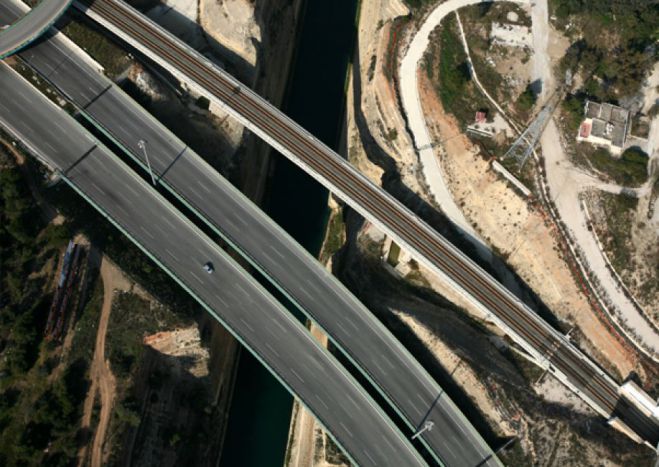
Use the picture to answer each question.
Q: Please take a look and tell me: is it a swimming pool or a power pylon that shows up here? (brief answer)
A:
power pylon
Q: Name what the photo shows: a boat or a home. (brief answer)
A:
home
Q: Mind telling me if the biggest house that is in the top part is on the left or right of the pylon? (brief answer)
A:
to the right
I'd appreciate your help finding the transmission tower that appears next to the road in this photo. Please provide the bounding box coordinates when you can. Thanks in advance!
[500,85,565,170]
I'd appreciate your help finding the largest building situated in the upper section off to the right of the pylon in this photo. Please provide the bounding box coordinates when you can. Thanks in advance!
[575,100,631,161]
